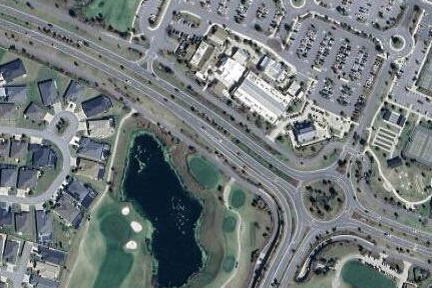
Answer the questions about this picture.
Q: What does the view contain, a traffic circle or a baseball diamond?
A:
traffic circle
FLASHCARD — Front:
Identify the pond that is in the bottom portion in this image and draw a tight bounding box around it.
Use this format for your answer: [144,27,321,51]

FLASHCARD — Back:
[124,132,202,288]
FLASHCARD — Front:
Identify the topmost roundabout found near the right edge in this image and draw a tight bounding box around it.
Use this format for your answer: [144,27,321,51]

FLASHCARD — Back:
[383,28,411,57]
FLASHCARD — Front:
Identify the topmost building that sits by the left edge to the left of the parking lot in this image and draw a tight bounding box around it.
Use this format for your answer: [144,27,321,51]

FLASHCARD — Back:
[0,57,26,82]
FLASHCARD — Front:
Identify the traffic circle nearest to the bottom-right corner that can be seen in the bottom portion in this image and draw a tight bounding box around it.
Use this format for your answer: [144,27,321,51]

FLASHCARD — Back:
[292,168,355,231]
